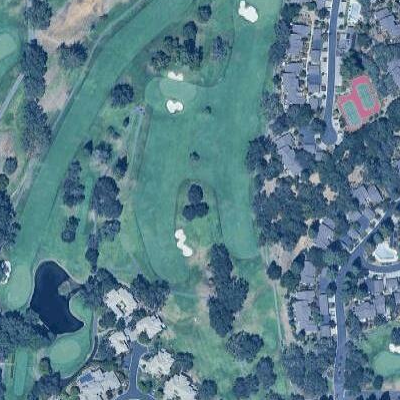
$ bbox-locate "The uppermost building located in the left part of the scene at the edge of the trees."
[102,287,137,319]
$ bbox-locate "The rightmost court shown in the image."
[351,74,380,122]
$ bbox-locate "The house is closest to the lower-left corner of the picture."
[77,366,120,400]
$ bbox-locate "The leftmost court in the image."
[337,93,363,132]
